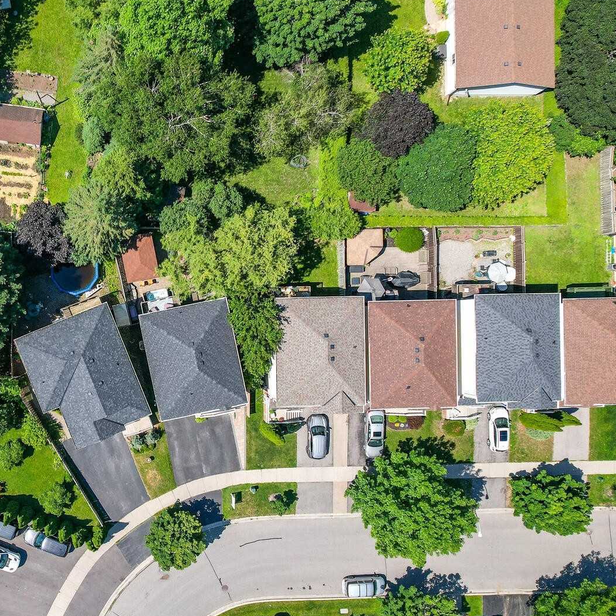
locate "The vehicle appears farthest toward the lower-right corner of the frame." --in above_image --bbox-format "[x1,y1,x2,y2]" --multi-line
[486,406,512,452]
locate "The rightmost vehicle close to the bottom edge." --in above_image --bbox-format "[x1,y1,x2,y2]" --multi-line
[340,575,385,597]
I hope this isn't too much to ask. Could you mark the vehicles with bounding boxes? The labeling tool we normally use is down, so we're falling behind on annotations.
[365,410,386,457]
[0,516,22,543]
[308,412,331,459]
[340,575,385,597]
[23,527,71,559]
[0,545,22,571]
[486,406,512,452]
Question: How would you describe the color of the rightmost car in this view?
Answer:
white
